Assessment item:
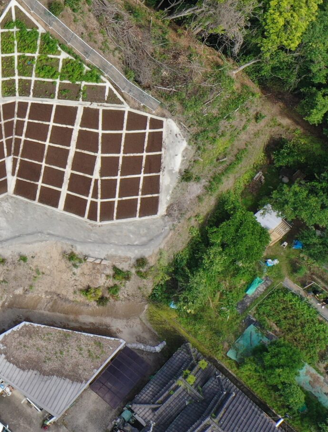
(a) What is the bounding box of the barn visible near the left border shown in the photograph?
[0,321,127,419]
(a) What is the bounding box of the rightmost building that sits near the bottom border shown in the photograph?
[122,345,268,432]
